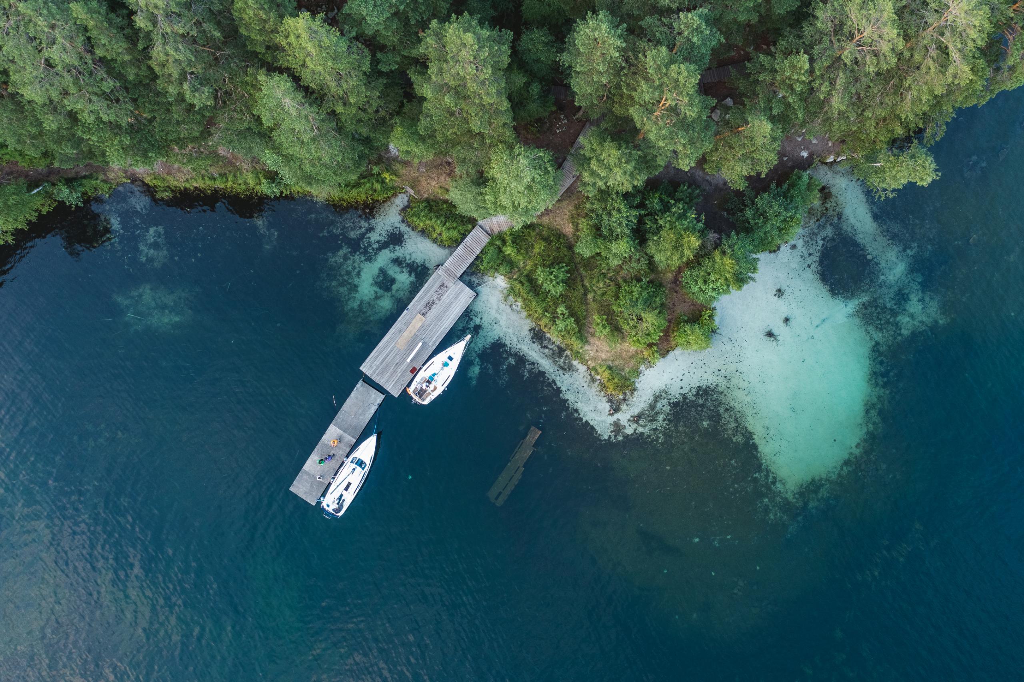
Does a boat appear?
Yes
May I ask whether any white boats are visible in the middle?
Yes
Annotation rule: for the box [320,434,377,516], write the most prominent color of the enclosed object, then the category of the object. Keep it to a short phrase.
white boat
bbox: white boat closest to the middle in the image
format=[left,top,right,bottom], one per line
[408,335,470,405]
